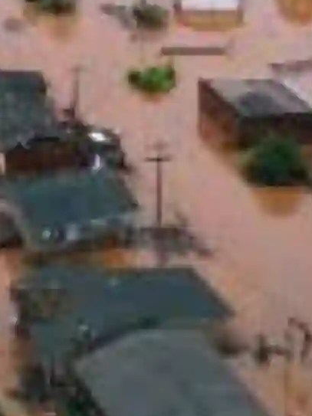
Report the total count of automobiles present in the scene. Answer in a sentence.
No automobiles are visible.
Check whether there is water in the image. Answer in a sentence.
Yes, there's water in this view.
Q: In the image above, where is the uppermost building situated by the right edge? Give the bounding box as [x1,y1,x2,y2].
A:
[200,78,312,148]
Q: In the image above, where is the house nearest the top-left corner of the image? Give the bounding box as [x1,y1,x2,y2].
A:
[0,67,84,182]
